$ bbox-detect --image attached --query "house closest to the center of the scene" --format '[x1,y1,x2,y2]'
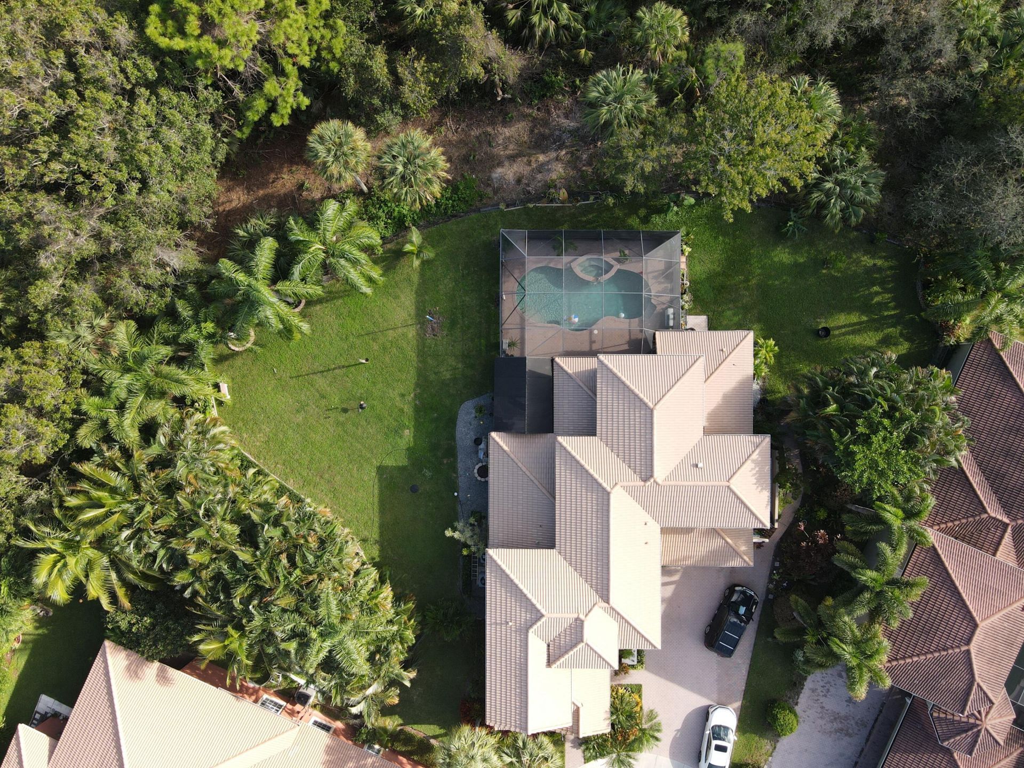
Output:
[484,329,772,739]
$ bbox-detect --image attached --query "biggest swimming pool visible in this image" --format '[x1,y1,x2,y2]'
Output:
[513,249,660,334]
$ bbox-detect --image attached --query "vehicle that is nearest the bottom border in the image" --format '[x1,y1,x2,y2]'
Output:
[698,704,736,768]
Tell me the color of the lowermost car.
white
